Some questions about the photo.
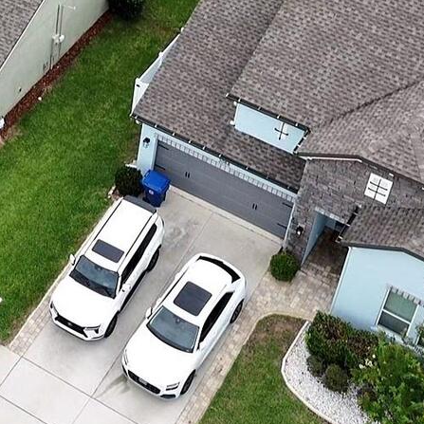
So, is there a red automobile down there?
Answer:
No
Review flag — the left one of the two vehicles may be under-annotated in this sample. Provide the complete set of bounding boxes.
[43,199,167,345]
